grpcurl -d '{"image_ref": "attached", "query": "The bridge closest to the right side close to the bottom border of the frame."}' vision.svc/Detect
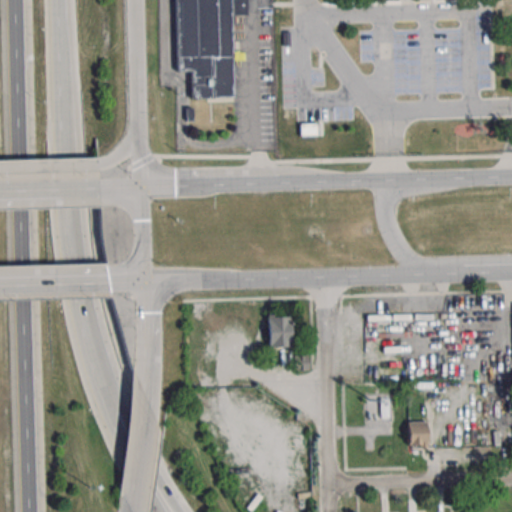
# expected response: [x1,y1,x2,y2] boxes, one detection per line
[118,366,162,512]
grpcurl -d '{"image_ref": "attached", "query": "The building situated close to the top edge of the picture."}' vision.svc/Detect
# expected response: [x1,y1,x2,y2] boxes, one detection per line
[177,0,248,102]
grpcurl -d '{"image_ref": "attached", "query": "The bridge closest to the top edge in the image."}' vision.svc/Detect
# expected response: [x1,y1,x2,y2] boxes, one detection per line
[0,156,108,210]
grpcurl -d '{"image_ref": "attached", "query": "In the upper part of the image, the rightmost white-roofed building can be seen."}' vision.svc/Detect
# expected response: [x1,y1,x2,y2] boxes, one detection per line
[300,122,325,138]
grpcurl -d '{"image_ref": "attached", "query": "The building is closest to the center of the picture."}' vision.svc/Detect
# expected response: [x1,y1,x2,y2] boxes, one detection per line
[268,316,296,348]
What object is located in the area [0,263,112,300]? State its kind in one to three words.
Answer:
bridge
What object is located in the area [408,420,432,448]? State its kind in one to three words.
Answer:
house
